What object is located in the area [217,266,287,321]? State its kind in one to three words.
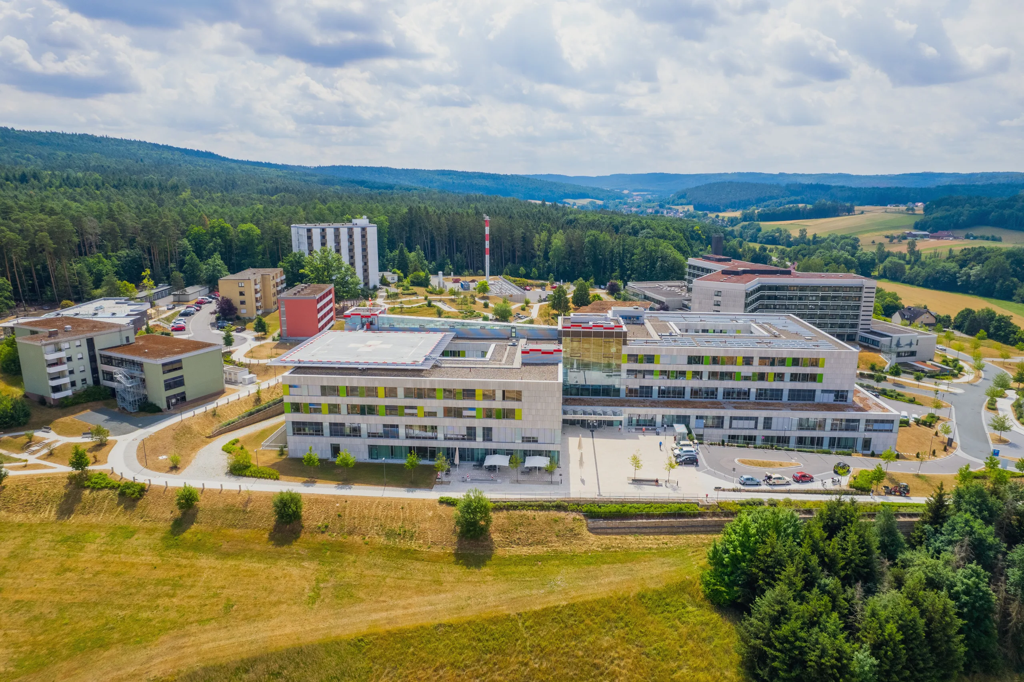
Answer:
house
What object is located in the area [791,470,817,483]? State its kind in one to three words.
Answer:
vehicle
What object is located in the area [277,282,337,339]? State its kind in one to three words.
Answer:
house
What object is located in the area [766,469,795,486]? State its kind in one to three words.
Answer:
car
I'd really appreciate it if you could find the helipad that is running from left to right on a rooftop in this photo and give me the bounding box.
[266,330,456,374]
